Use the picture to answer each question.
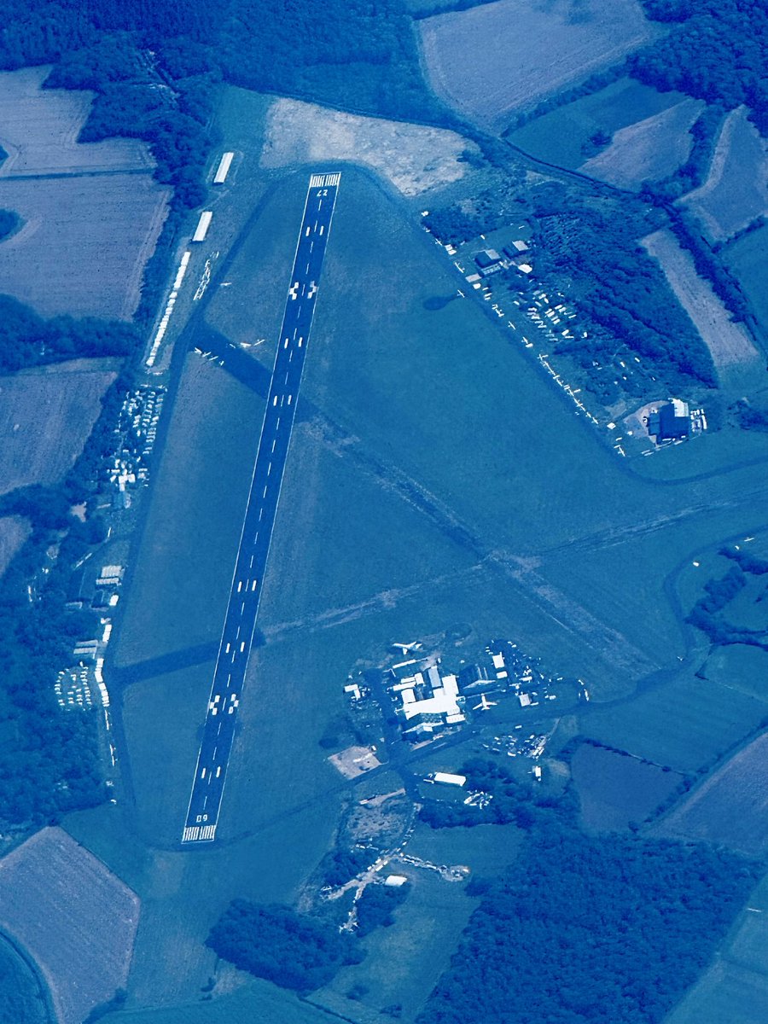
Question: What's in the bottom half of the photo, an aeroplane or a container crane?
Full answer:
What appears in the bottom half of the photo is an aeroplane.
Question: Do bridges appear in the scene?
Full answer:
No, no bridge can be seen from above.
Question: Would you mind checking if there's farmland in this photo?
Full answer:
Yes, some farmland is visible.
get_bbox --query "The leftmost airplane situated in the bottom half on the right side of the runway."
[393,638,423,654]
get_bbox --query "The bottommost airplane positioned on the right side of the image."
[471,693,497,709]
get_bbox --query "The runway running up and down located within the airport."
[181,170,342,844]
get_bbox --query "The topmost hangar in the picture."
[214,153,233,185]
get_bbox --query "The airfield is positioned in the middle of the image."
[58,86,768,898]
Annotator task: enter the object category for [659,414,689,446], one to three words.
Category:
hangar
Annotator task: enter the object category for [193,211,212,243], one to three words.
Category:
hangar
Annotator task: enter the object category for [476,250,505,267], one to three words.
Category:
building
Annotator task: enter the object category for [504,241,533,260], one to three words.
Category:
building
